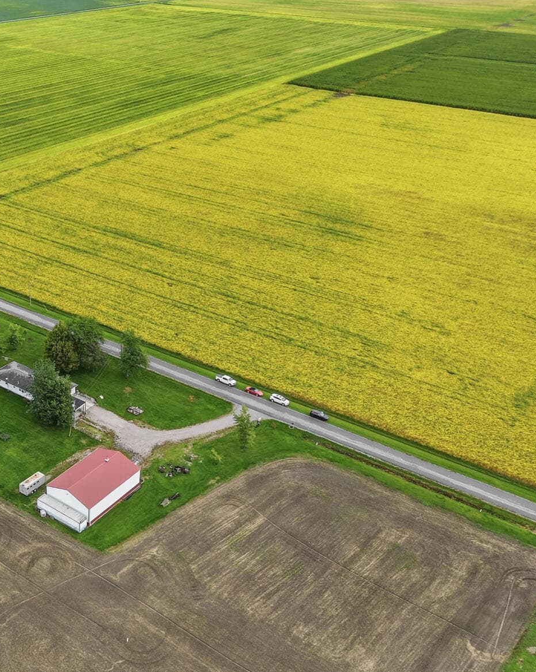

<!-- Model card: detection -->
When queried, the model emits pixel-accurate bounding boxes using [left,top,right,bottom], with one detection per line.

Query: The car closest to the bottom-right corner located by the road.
[308,407,330,421]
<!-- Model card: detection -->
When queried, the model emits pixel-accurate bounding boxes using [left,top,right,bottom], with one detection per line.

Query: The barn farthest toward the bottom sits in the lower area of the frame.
[45,448,142,527]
